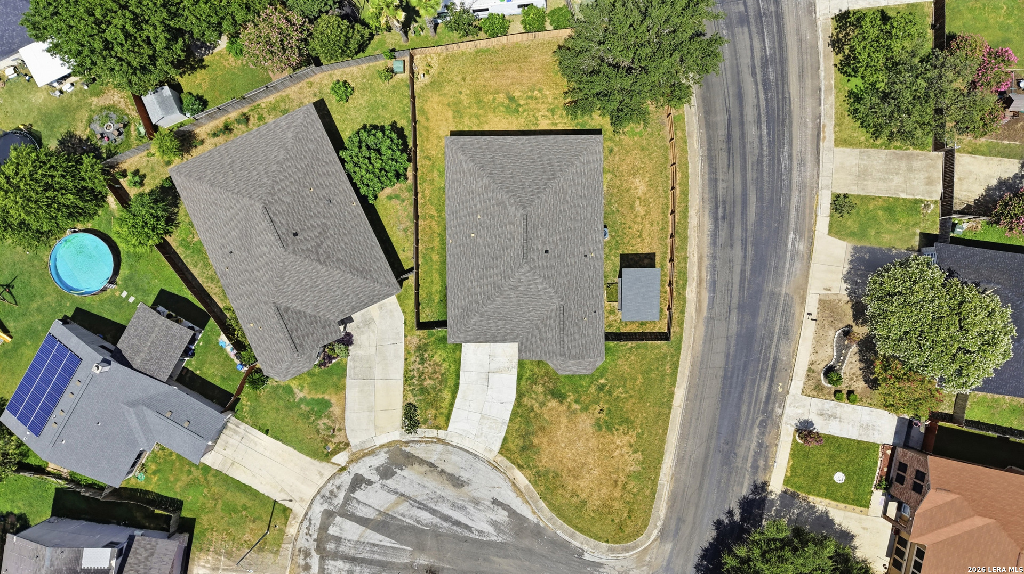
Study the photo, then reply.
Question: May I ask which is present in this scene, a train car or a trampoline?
trampoline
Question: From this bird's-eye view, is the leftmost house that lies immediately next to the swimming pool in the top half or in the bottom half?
bottom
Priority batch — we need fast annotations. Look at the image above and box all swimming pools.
[51,231,122,295]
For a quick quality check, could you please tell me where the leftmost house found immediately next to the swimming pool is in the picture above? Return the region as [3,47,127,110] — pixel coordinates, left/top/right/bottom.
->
[0,318,234,488]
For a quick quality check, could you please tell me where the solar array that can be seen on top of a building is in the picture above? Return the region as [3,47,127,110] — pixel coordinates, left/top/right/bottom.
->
[5,332,81,437]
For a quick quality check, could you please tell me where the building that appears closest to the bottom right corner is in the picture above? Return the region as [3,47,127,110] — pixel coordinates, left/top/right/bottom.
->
[882,448,1024,574]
